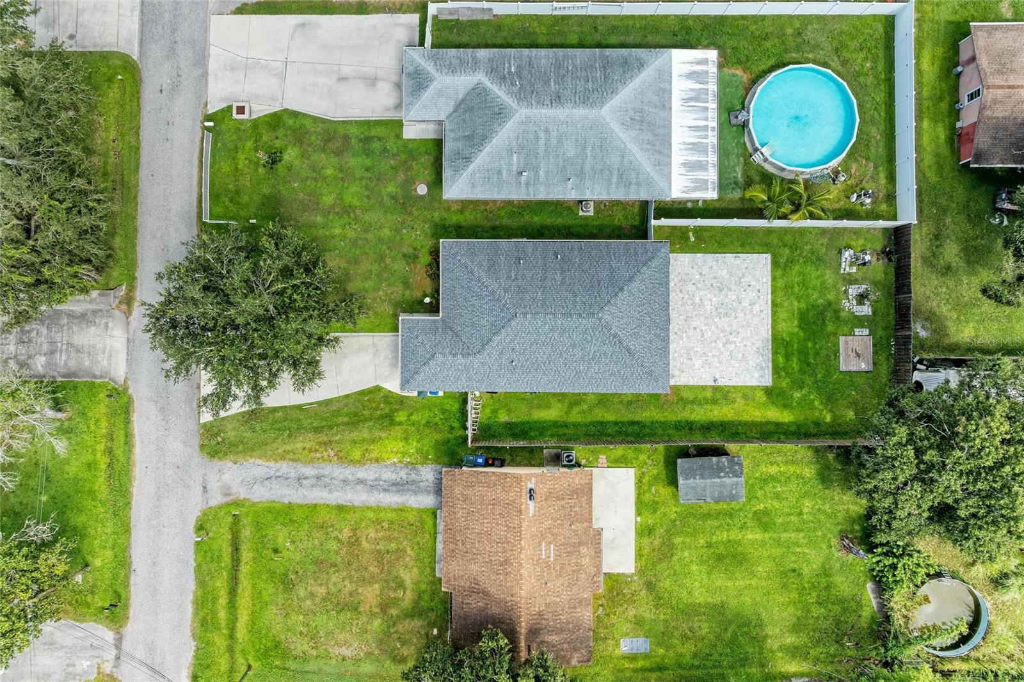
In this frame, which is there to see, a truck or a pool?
pool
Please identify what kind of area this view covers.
residential area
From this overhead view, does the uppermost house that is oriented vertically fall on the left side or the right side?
right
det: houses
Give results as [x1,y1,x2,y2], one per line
[401,47,718,206]
[442,467,605,675]
[958,22,1024,168]
[397,239,672,394]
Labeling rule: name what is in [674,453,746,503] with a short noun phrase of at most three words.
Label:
shed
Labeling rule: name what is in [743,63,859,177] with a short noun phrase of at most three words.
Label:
swimming pool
